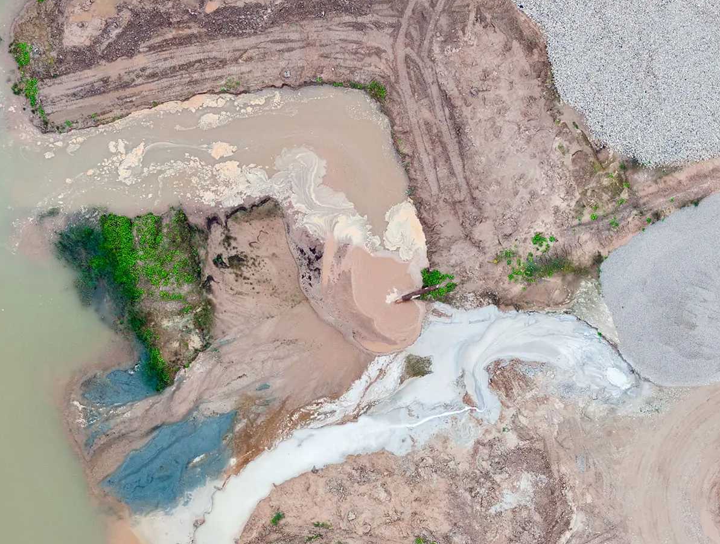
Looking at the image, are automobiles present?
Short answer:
No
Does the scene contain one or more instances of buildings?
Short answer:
No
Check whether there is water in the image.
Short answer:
Yes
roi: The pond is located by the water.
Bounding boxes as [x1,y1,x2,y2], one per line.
[33,83,429,353]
